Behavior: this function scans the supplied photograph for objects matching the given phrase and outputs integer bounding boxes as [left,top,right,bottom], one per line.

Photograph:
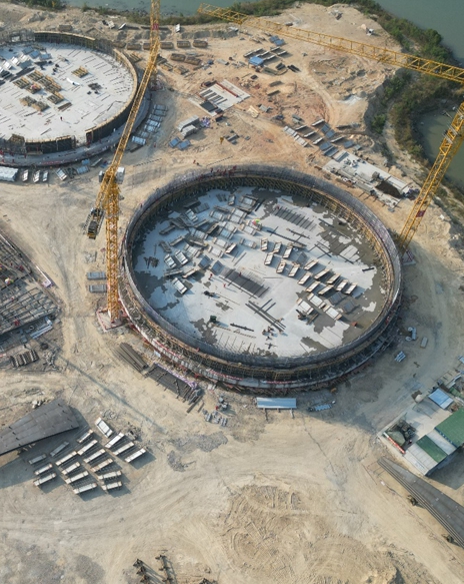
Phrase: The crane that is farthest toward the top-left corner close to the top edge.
[147,0,166,91]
